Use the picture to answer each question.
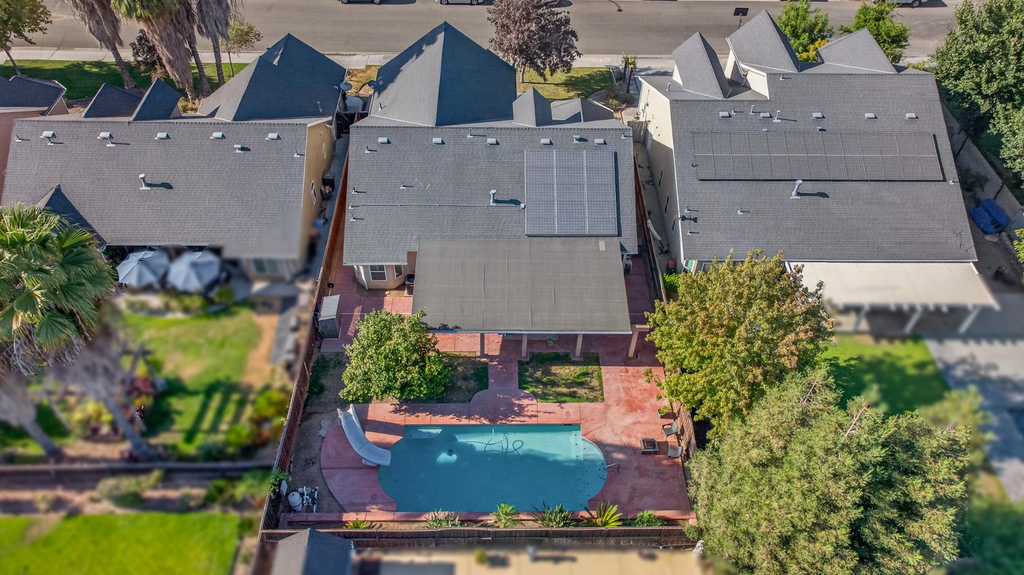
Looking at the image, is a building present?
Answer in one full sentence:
Yes, looking at the shot, I can spot a building.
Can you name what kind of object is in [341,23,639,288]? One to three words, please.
house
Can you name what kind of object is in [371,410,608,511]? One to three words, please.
swimming pool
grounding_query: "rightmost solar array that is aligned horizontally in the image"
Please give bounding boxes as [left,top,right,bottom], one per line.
[692,132,942,181]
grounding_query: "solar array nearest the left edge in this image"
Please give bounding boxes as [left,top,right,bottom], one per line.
[524,148,619,235]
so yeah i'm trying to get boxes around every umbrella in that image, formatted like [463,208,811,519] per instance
[166,254,223,306]
[117,249,173,305]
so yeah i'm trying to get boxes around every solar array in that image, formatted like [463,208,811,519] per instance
[692,132,942,181]
[524,148,619,235]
